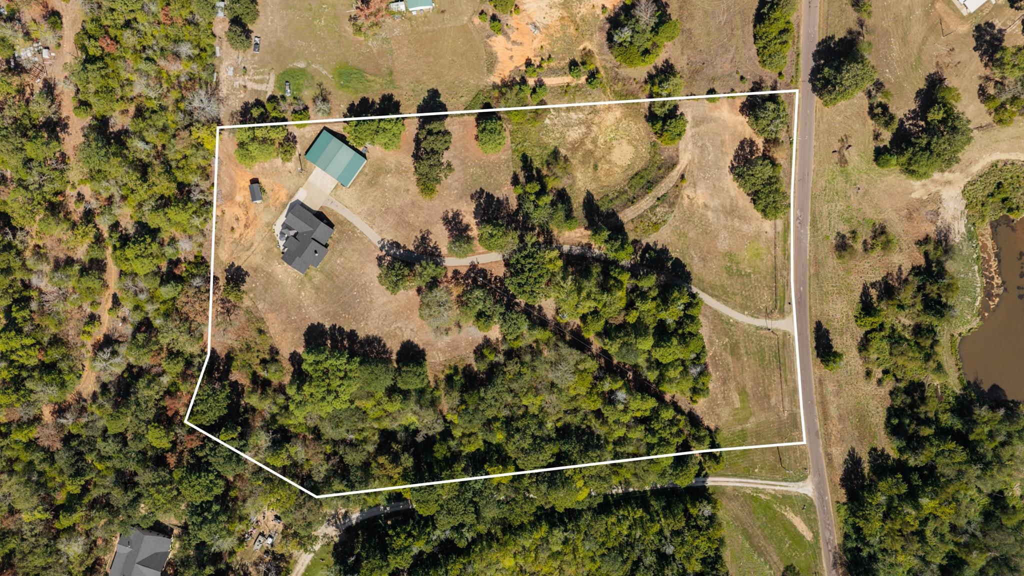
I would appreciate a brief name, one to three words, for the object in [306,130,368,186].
barn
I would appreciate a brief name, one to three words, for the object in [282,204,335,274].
house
